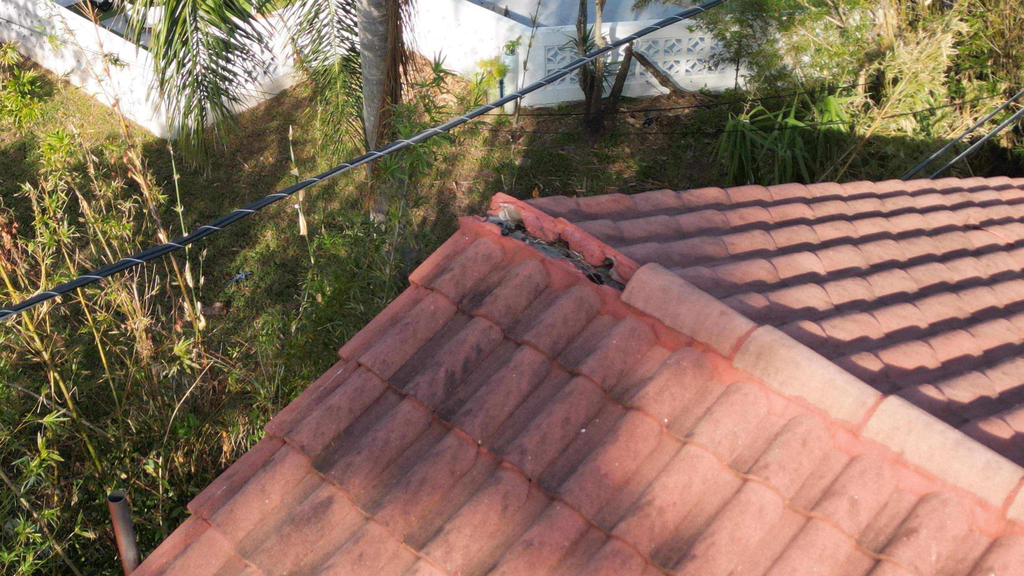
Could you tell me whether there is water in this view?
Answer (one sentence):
No, the picture contains no water.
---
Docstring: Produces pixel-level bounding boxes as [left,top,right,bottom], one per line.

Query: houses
[125,168,1024,576]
